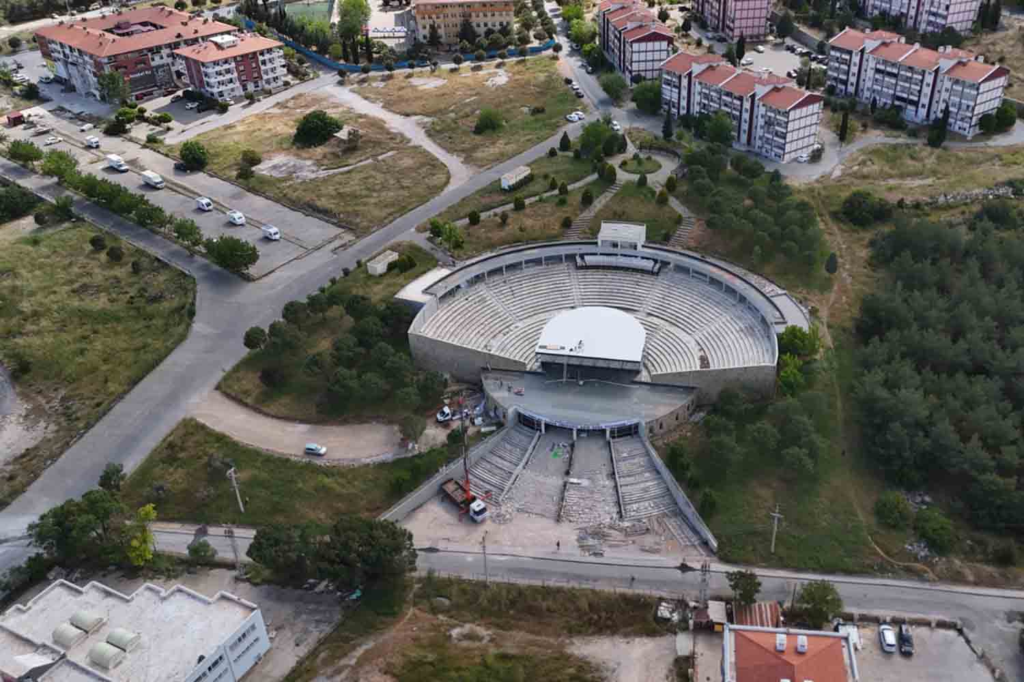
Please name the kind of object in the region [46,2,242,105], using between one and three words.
building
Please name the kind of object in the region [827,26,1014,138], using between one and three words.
building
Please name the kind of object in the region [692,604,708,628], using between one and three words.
shed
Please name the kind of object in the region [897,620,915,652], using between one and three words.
car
